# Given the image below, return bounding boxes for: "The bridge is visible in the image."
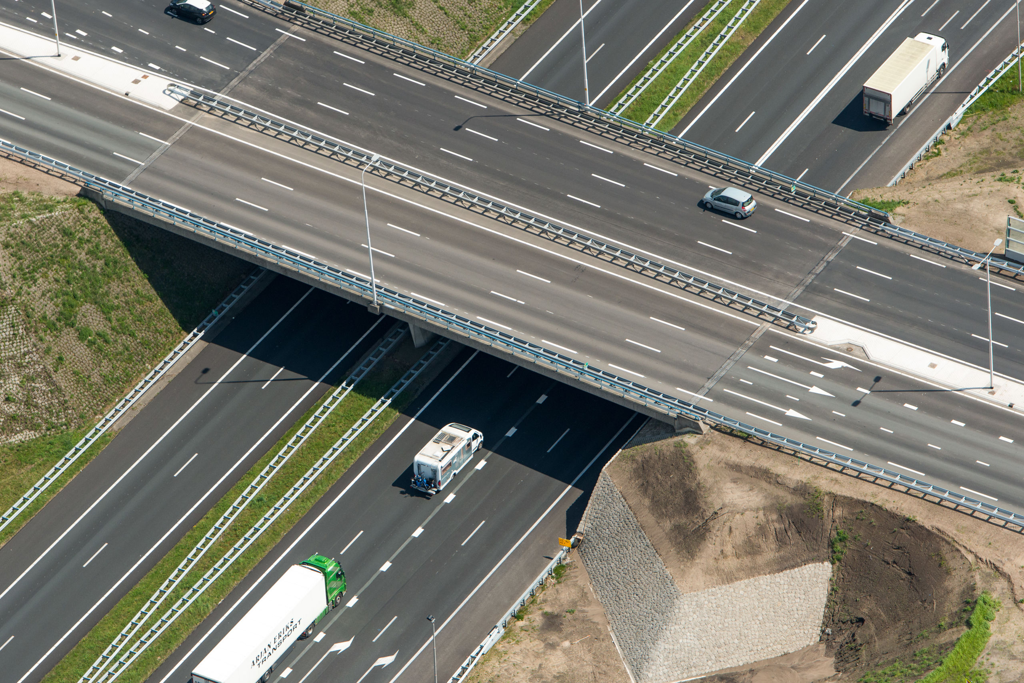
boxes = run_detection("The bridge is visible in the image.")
[74,4,898,446]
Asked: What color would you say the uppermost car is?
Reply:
black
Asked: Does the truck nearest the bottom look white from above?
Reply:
Yes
